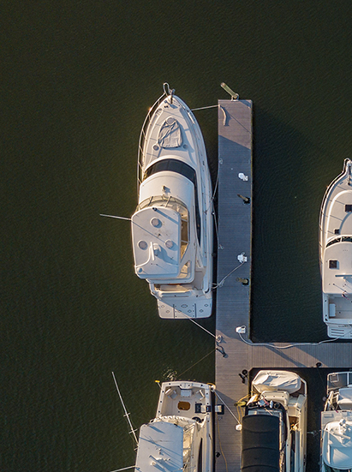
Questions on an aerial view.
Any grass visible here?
No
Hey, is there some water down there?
Yes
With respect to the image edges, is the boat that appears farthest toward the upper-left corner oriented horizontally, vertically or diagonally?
vertically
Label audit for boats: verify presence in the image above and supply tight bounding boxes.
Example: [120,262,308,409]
[319,372,352,472]
[319,157,352,338]
[103,83,218,318]
[242,368,310,472]
[112,371,226,472]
